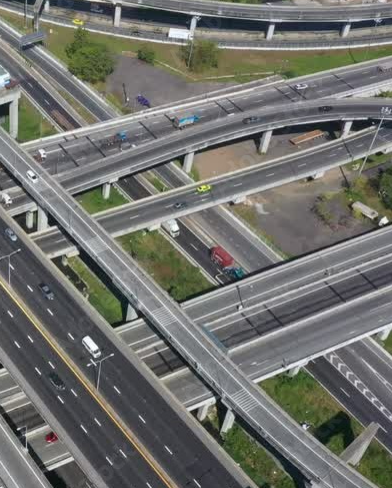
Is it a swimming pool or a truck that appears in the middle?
truck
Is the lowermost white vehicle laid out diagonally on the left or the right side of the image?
left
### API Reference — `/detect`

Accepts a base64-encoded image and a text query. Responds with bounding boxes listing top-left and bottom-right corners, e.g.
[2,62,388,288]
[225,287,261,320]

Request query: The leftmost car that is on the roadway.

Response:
[4,228,19,242]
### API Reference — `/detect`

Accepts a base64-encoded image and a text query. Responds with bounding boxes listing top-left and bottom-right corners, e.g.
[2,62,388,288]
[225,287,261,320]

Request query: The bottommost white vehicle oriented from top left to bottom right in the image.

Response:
[81,335,102,359]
